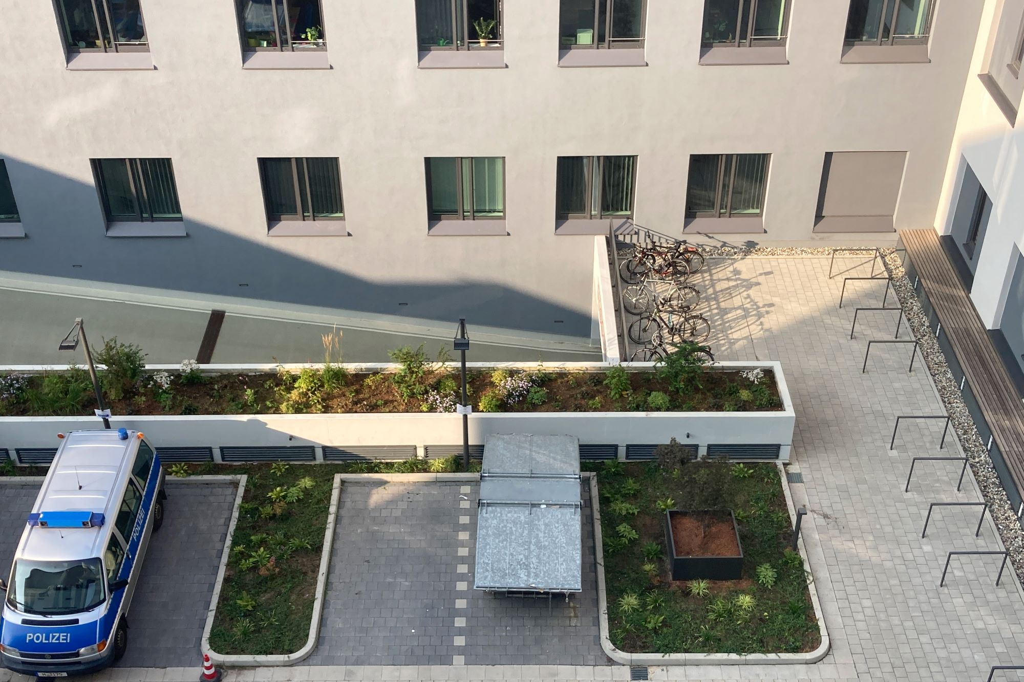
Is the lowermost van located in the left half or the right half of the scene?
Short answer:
left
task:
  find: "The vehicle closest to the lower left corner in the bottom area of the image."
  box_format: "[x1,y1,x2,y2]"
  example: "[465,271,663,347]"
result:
[0,429,170,680]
